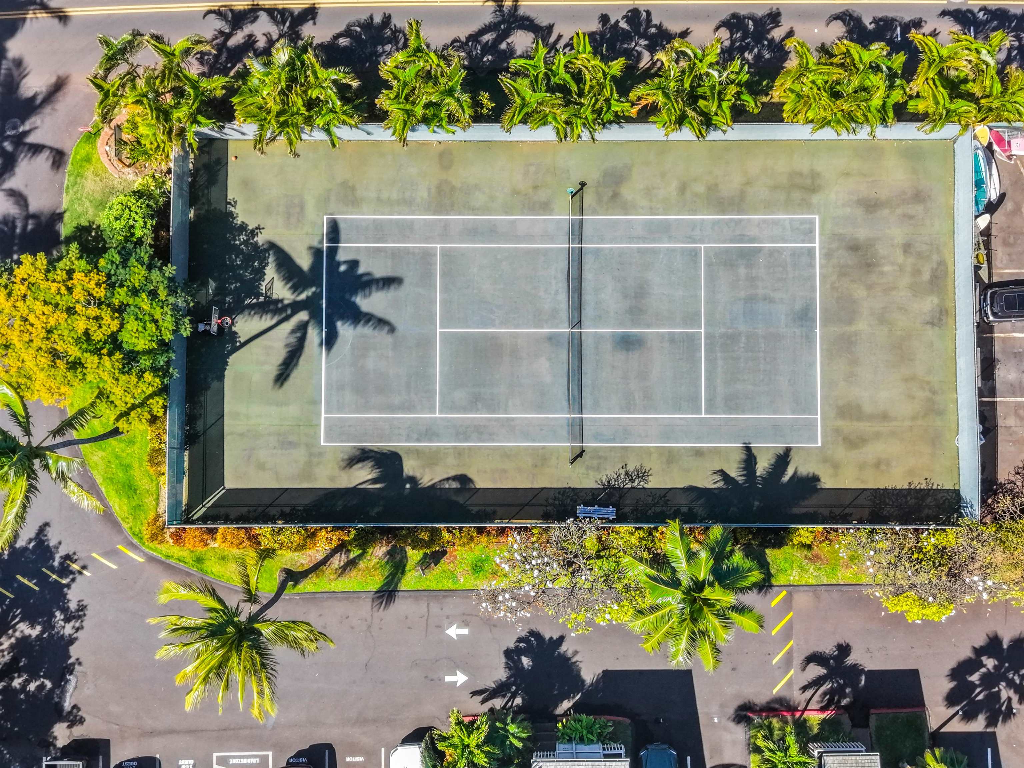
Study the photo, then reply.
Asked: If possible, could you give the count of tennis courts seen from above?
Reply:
one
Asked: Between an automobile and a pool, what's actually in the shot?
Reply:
automobile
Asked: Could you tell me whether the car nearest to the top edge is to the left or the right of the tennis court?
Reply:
to its right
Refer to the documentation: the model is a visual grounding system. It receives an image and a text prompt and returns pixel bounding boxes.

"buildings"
[813,742,883,768]
[530,742,631,768]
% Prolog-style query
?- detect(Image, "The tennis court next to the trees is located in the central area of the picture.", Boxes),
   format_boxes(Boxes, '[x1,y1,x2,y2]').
[185,140,962,521]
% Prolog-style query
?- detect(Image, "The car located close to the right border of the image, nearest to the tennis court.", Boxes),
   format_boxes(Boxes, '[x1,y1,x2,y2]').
[979,281,1024,324]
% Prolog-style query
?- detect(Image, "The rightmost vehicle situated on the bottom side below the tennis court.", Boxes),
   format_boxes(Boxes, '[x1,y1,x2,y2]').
[638,742,677,768]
